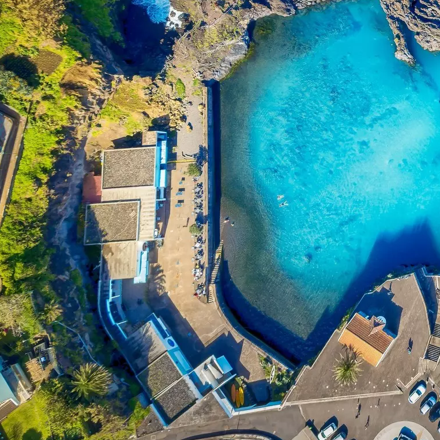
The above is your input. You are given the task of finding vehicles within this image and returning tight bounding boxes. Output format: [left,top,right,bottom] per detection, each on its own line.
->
[334,430,349,440]
[417,394,439,419]
[319,420,338,440]
[426,402,440,427]
[395,432,417,440]
[405,383,427,409]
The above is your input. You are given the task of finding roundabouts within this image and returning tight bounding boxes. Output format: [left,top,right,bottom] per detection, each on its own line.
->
[376,423,432,440]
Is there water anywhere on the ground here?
Yes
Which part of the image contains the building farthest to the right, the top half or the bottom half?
bottom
